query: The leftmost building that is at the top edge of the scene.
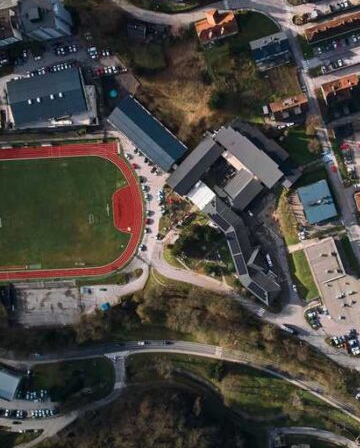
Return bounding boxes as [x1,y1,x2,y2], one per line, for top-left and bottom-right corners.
[0,9,29,52]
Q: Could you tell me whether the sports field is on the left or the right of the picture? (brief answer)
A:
left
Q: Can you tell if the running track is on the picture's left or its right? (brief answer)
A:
left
